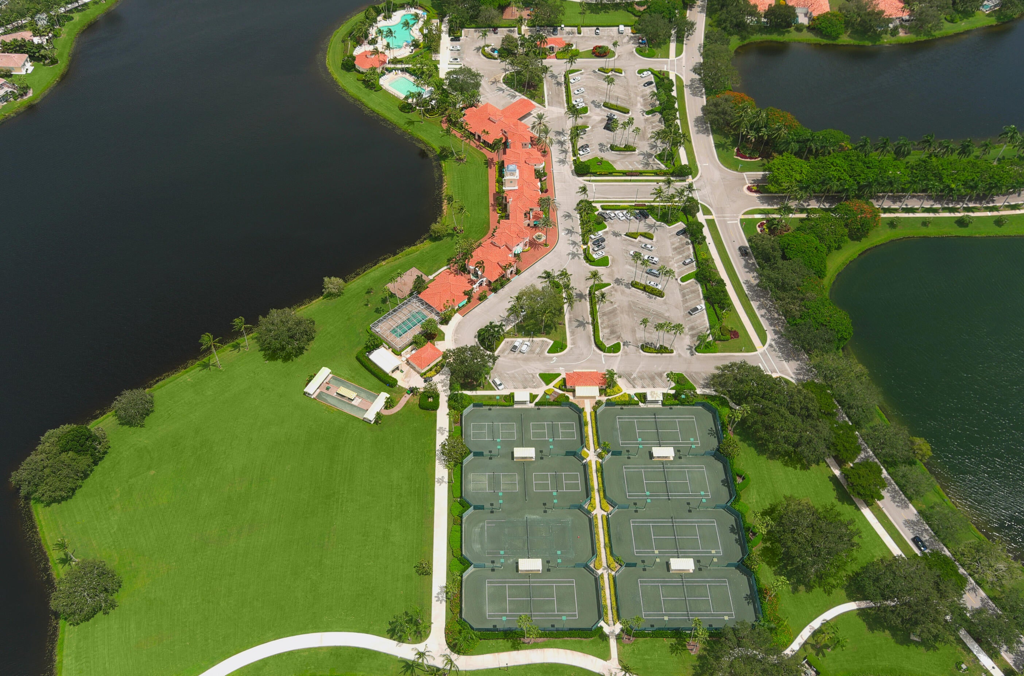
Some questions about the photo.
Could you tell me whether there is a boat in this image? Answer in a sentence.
No, the photo shows no boat.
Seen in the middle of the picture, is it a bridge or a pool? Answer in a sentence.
What appears in the middle of the picture is a pool.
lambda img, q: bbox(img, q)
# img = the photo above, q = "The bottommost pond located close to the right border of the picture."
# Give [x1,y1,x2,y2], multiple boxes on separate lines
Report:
[832,238,1024,565]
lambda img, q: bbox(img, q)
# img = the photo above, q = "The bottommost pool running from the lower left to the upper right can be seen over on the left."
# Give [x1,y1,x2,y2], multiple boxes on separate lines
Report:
[391,310,428,338]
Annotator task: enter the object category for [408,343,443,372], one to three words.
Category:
building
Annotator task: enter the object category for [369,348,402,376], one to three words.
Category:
shed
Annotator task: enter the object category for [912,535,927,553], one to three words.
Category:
car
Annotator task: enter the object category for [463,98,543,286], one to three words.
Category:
building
